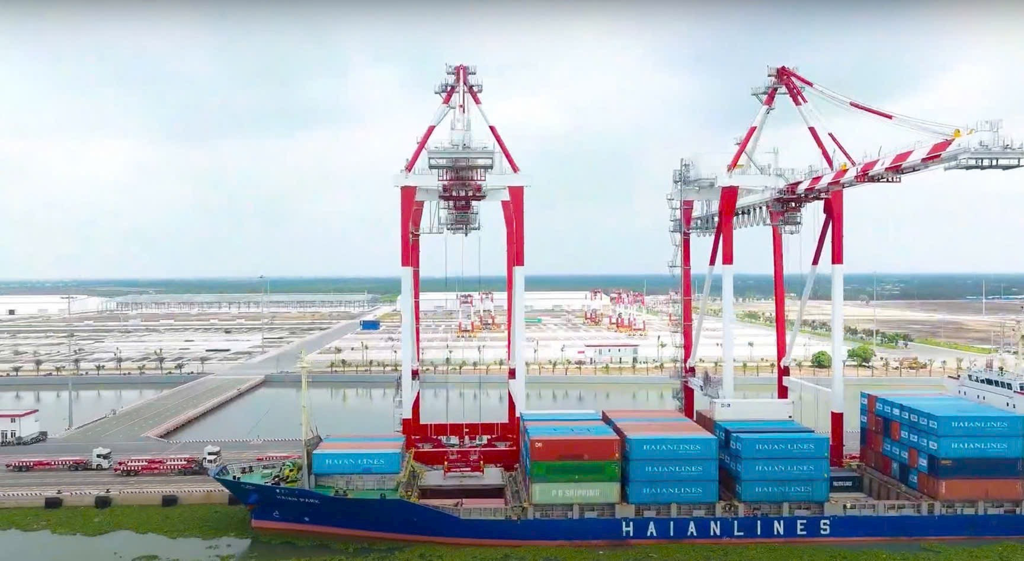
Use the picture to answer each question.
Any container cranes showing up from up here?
Yes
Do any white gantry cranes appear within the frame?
Yes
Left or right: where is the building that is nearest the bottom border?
left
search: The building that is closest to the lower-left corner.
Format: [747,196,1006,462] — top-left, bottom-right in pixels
[0,406,48,445]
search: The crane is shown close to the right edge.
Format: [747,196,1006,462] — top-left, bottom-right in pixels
[659,59,1024,468]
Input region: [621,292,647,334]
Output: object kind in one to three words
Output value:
container crane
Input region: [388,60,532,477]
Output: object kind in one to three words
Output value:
container crane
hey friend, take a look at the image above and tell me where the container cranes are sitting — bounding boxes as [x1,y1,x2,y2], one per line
[659,59,1024,468]
[583,289,601,322]
[480,291,496,328]
[663,289,682,326]
[458,292,476,334]
[621,292,647,334]
[388,60,532,477]
[611,291,632,331]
